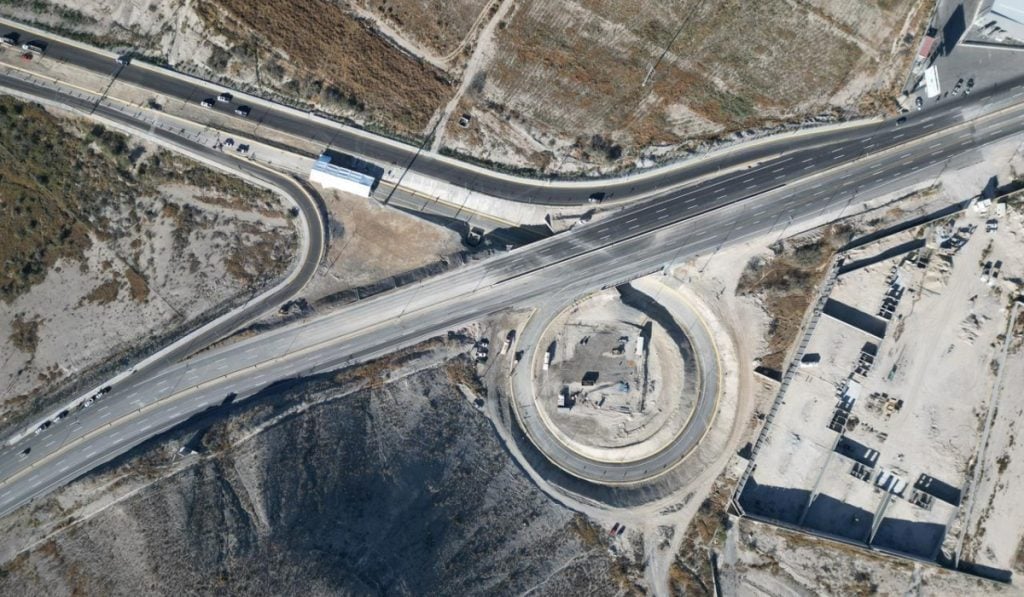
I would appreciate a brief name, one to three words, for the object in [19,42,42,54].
vehicle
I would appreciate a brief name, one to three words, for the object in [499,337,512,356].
vehicle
